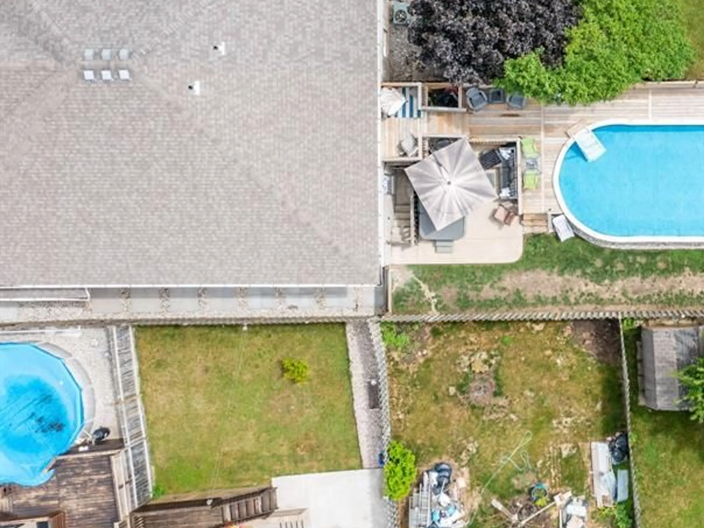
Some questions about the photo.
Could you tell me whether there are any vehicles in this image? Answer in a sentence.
No, no vehicle can be seen from above.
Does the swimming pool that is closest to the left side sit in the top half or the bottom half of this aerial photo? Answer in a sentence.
Seen from above, the swimming pool that is closest to the left side lies in the bottom half of the view.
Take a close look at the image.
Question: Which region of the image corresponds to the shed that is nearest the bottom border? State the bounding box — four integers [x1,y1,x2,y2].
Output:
[633,324,704,410]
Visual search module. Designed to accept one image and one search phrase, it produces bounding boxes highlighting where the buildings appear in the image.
[633,324,704,410]
[0,0,388,302]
